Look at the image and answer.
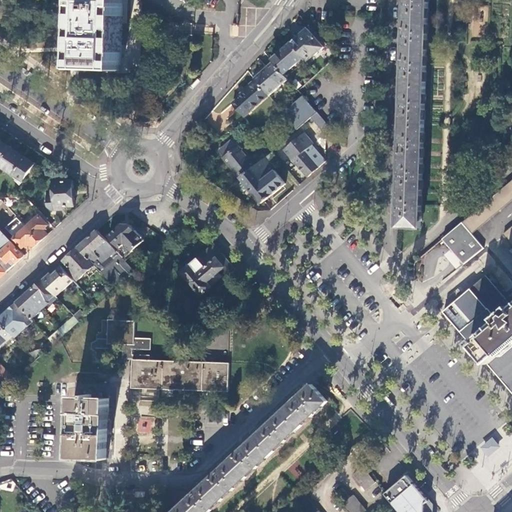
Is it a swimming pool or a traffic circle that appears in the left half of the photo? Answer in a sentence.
What appears in the left half of the photo is a traffic circle.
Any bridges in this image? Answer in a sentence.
No, the picture doesn't show any bridge.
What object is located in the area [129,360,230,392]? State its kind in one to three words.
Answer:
building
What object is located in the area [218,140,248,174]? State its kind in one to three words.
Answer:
house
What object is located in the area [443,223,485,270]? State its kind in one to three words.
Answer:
building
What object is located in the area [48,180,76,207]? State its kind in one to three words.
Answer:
house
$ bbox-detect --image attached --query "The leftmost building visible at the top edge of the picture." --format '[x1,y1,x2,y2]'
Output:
[56,0,125,72]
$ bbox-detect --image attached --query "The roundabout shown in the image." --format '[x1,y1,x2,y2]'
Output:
[112,139,169,196]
